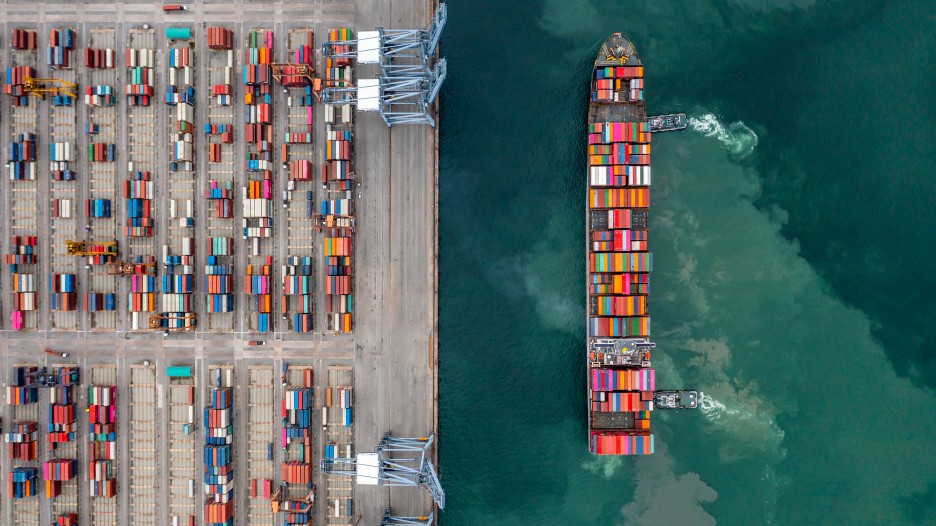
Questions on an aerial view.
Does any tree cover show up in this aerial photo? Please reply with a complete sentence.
No, there's no tree cover in this view.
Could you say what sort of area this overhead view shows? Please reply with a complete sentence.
The area seen from above is a port.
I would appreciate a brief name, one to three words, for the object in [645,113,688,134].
boat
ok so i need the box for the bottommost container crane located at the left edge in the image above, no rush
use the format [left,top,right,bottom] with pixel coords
[21,369,79,389]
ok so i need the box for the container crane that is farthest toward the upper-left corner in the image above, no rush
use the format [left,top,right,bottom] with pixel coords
[20,75,78,99]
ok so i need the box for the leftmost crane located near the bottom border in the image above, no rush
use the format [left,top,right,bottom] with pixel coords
[270,486,314,513]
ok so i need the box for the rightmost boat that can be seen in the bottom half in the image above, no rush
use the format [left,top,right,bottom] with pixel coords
[649,389,698,409]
